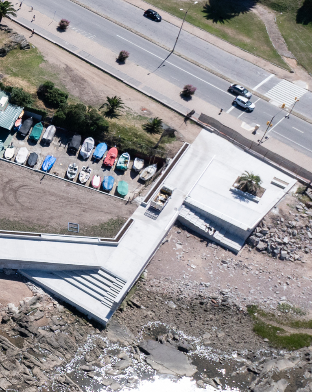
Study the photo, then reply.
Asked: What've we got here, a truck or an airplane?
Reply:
truck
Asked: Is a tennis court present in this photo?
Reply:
No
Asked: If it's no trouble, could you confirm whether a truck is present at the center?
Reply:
Yes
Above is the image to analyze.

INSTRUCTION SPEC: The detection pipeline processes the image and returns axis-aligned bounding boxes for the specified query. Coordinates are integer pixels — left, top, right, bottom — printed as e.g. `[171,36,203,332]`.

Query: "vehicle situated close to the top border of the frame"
[141,7,167,23]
